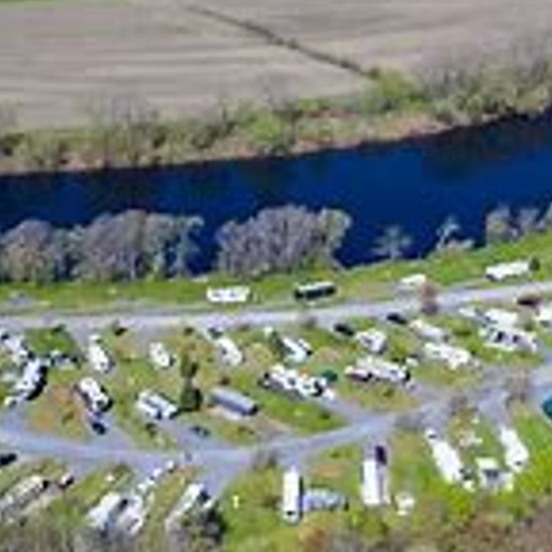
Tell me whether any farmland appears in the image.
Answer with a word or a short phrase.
Yes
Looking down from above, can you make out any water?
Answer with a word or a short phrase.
Yes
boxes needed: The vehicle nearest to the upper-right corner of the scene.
[484,263,529,288]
